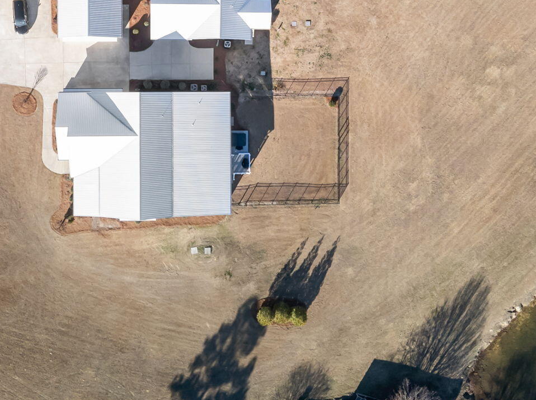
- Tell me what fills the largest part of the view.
grass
